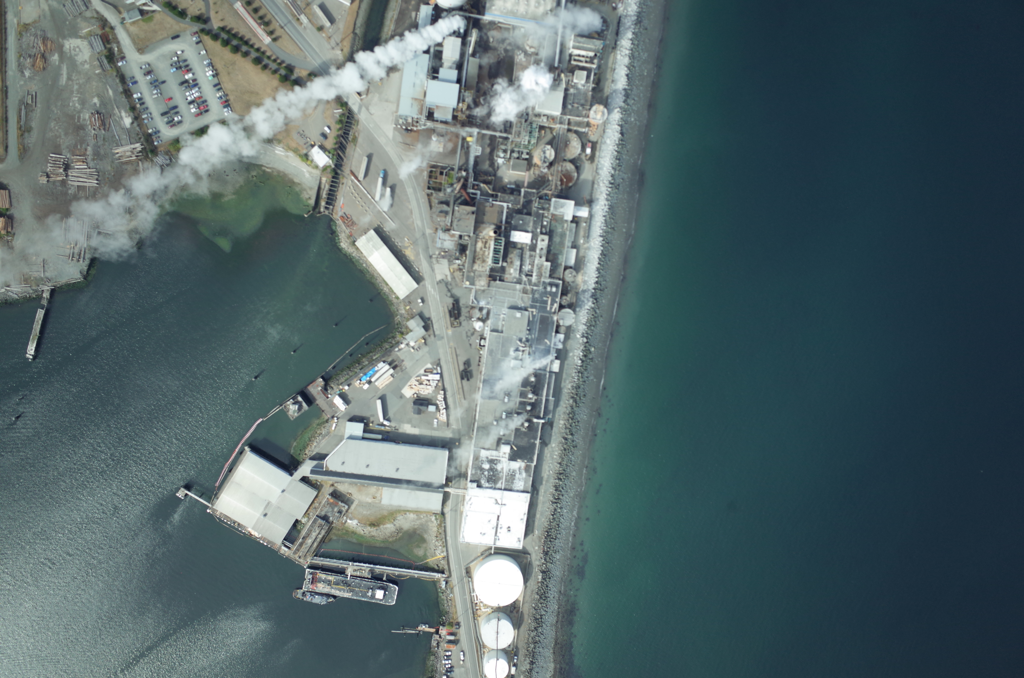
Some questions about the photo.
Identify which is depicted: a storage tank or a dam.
storage tank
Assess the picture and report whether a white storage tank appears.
Yes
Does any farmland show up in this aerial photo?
No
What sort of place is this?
port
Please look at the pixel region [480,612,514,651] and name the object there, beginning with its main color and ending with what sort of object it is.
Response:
white storage tank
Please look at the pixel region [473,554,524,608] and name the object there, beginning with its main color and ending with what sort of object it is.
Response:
white storage tank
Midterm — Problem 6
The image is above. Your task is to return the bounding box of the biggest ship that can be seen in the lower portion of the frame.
[302,568,399,605]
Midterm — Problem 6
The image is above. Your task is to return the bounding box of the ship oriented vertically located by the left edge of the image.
[25,309,47,362]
